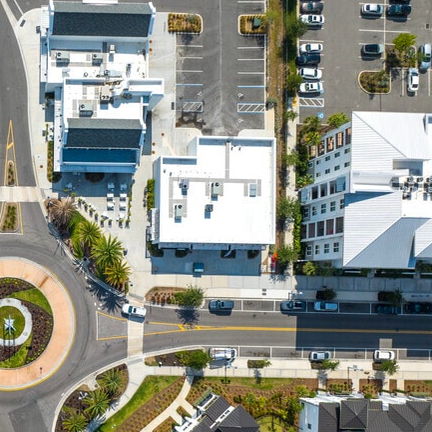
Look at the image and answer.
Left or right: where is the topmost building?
left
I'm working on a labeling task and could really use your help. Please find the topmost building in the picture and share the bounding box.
[40,0,164,173]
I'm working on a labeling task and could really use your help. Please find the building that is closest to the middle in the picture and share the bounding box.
[150,137,276,250]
